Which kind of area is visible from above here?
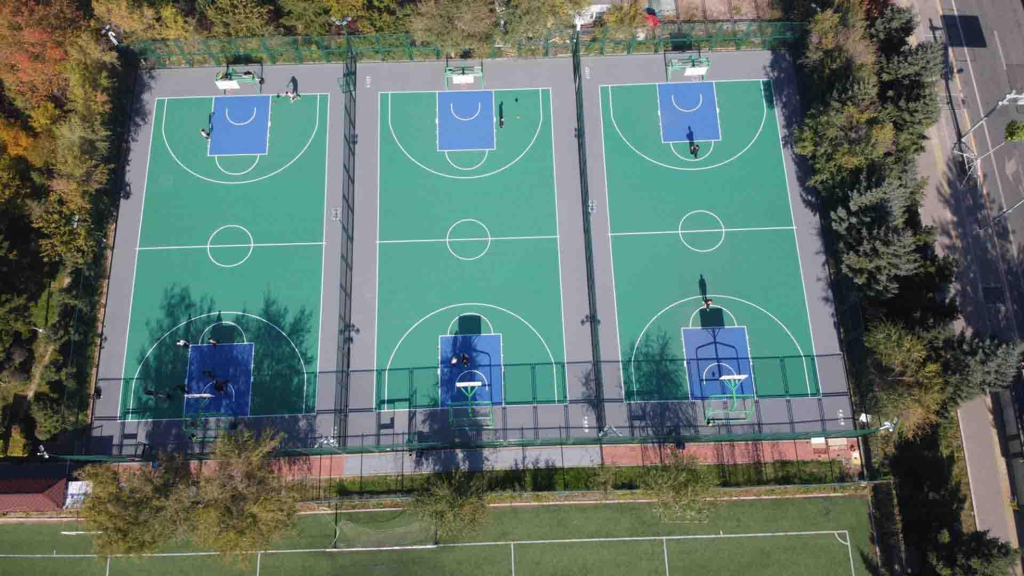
sports ground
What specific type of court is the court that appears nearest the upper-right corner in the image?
basketball court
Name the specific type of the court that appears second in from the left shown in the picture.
basketball court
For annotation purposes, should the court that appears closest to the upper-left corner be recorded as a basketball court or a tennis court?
basketball court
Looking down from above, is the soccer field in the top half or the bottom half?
bottom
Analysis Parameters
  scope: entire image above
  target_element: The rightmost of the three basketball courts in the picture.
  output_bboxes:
[599,81,820,403]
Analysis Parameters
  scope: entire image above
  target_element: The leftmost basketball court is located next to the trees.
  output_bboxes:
[117,93,329,421]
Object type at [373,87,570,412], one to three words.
basketball court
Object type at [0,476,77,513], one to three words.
building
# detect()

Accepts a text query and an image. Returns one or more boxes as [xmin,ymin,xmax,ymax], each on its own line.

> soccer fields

[0,494,884,576]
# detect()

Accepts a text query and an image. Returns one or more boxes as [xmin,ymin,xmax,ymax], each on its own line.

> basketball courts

[117,93,329,421]
[599,81,820,403]
[373,87,570,412]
